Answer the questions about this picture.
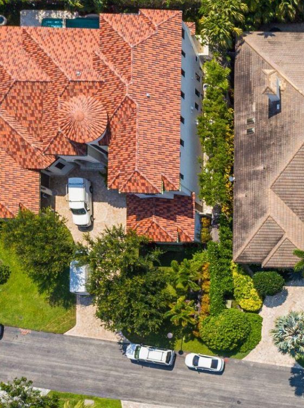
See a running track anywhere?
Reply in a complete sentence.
No, there is no running track in the image.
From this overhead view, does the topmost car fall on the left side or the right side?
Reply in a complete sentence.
You can find the topmost car on the left side of the picture.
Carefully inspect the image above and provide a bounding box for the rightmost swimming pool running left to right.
[65,15,100,27]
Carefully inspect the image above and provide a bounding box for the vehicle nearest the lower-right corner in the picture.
[186,353,226,372]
